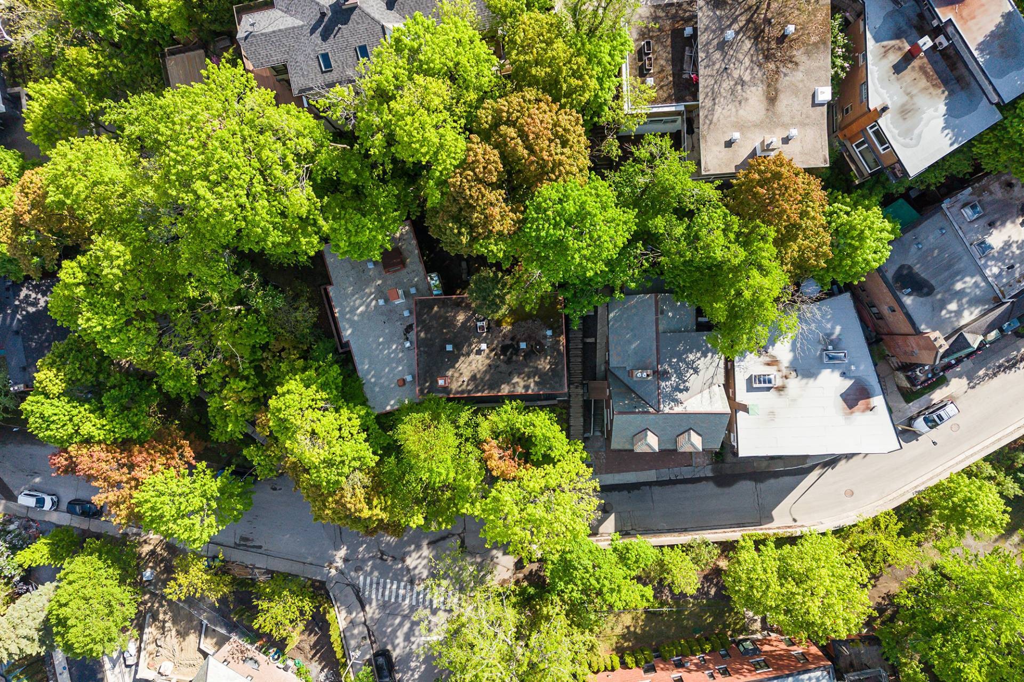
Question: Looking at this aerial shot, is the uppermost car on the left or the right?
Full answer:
It is on the right.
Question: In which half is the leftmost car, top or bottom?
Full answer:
The bottom half of the photo is where the leftmost car is.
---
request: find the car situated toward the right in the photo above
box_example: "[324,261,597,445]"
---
[906,397,961,435]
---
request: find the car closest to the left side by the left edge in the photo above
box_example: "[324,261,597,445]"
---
[16,486,62,513]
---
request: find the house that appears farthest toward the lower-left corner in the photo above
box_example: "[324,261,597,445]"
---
[194,638,302,682]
